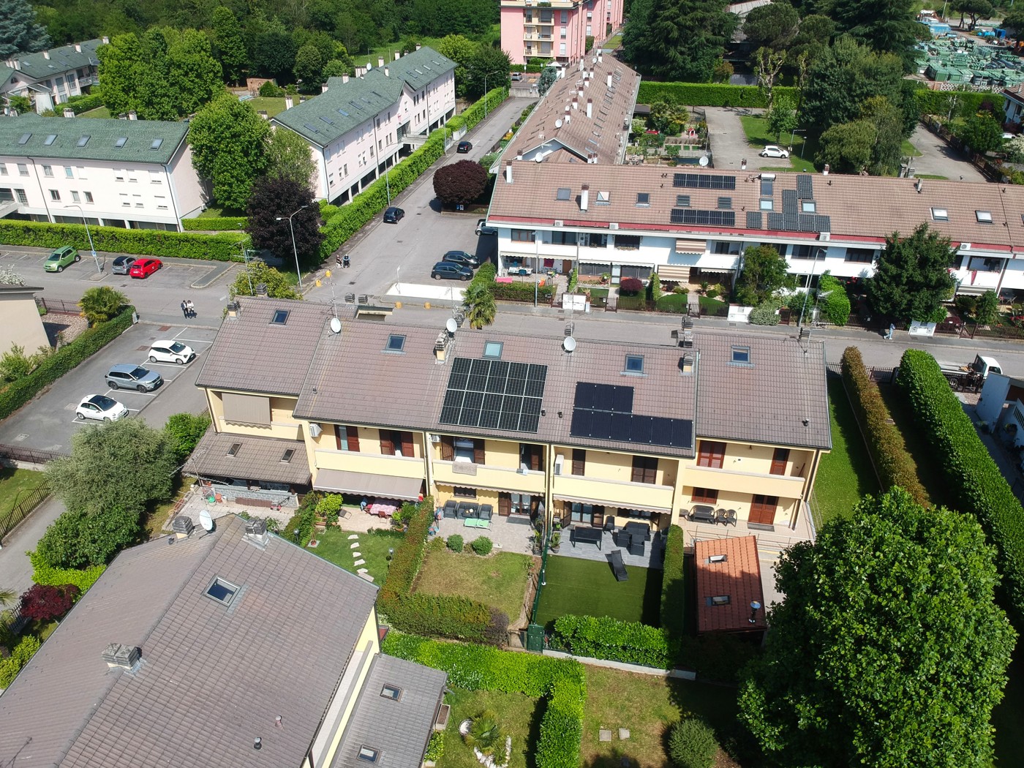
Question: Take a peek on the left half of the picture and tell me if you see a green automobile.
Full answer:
Yes, there is a green automobile on the left half of the picture.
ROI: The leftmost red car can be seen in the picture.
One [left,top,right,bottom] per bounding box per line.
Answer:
[126,254,168,276]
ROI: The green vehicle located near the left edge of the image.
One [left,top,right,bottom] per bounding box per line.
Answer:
[37,244,82,271]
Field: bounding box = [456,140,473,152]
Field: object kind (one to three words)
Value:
vehicle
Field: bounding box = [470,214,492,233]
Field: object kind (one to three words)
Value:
car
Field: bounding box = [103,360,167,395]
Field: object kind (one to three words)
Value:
car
